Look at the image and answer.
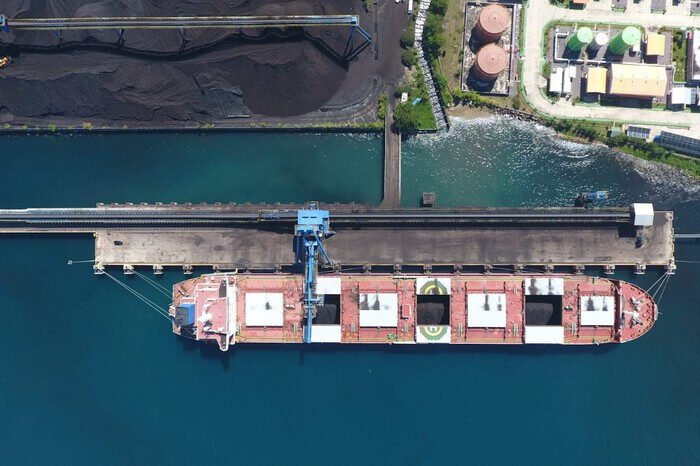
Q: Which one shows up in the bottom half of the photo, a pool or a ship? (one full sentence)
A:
Visible in the bottom half of the photo is a ship.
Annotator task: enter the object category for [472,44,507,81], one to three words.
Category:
storage tank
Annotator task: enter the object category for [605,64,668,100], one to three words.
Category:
building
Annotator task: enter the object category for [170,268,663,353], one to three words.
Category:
ship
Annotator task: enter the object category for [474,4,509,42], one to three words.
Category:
storage tank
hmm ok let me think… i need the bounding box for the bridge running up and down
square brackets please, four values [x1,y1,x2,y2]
[381,124,401,206]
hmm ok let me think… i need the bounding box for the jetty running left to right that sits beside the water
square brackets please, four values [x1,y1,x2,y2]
[94,204,675,265]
